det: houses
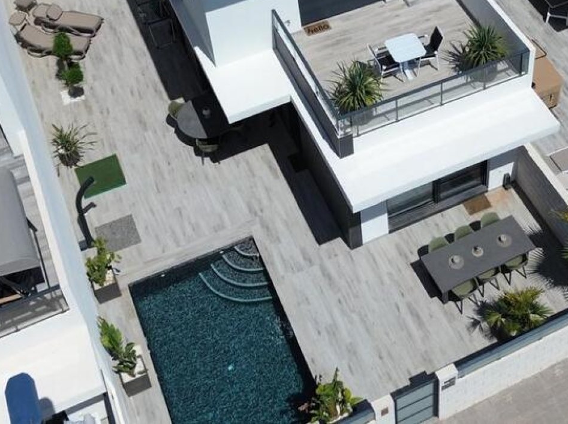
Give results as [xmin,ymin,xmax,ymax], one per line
[0,0,120,424]
[160,0,560,250]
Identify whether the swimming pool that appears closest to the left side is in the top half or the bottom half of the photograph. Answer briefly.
bottom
